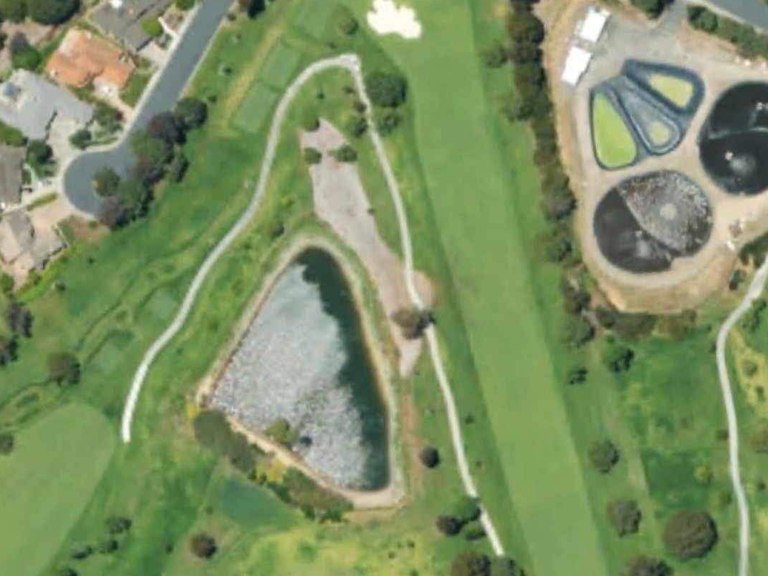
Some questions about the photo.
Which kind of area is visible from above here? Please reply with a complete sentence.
The picture captures a golf course.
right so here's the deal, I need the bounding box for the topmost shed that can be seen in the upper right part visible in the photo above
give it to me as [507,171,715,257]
[580,9,610,42]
